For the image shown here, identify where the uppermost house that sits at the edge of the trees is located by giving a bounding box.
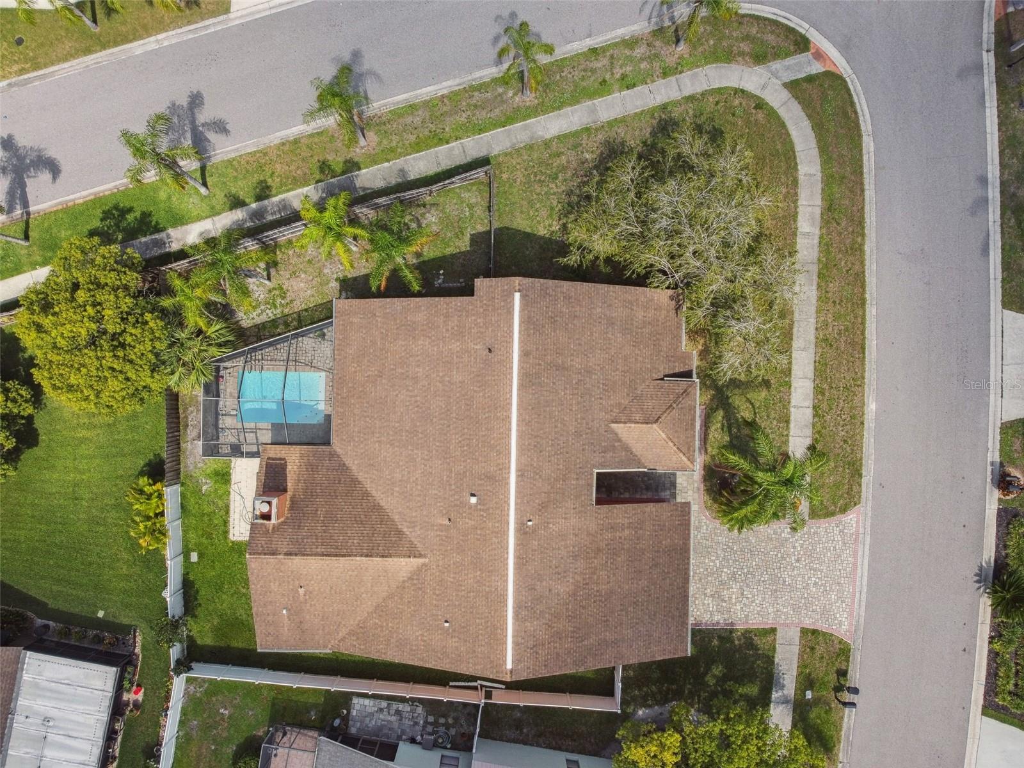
[246,277,700,681]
